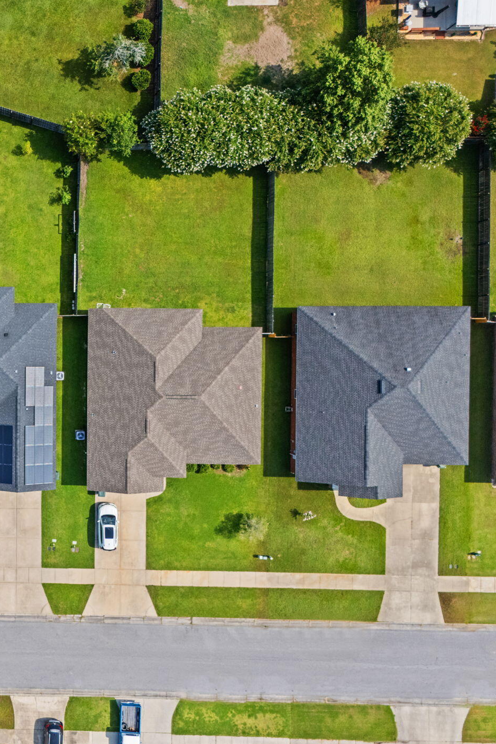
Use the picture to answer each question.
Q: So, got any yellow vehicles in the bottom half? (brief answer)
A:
No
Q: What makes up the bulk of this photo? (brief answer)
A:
grass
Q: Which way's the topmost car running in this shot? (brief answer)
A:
vertically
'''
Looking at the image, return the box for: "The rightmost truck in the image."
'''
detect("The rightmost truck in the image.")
[118,700,144,744]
